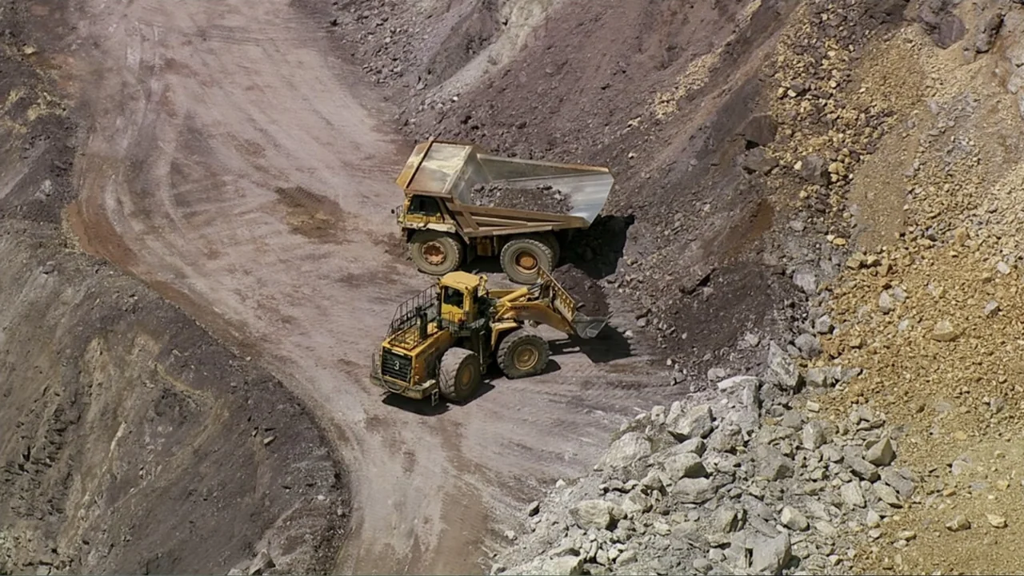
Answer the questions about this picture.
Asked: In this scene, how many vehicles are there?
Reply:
two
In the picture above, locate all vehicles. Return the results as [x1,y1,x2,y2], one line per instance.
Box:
[382,140,613,277]
[367,260,612,414]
